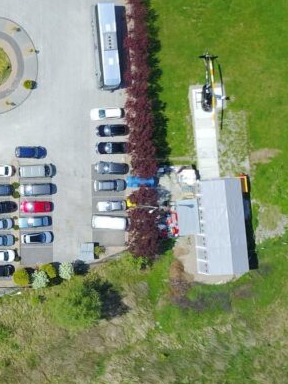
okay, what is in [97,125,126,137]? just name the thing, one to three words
vehicle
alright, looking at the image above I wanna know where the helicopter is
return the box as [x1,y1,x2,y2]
[196,51,217,129]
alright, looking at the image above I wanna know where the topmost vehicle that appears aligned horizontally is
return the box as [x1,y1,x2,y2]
[90,107,123,121]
